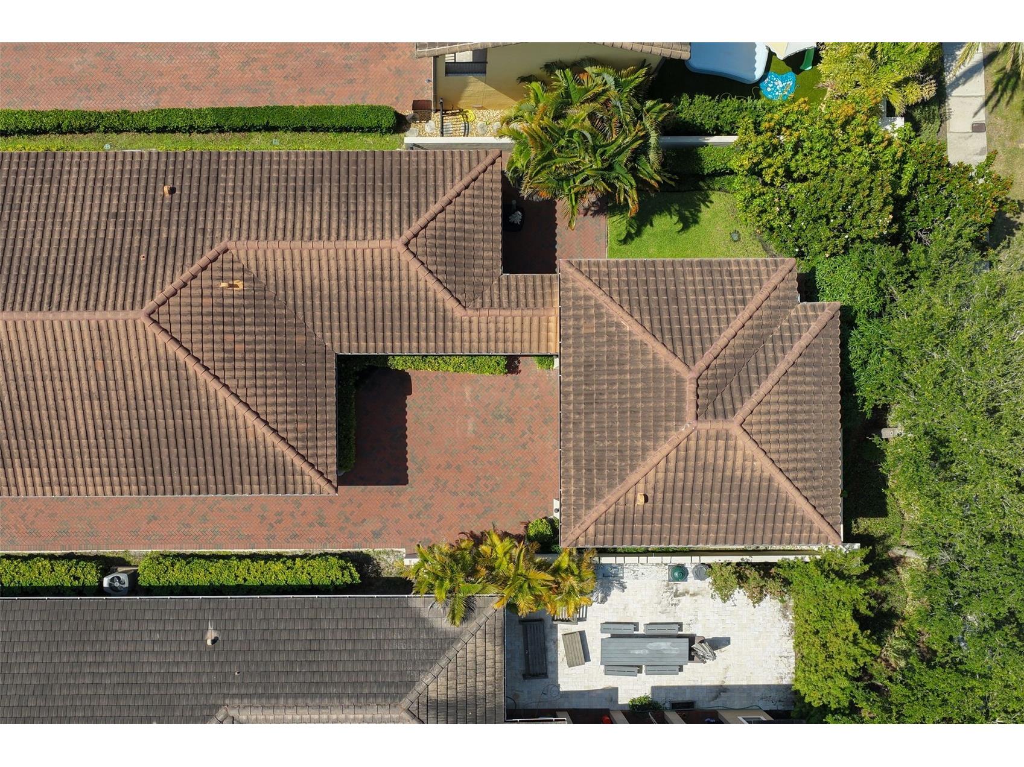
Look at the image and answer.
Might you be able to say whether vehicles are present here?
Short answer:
No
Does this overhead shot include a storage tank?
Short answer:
No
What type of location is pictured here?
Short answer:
residential area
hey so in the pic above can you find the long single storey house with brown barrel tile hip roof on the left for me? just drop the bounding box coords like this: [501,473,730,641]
[0,146,557,499]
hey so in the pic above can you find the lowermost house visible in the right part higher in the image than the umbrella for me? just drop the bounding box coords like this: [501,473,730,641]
[556,255,847,551]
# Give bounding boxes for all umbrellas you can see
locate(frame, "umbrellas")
[688,640,721,669]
